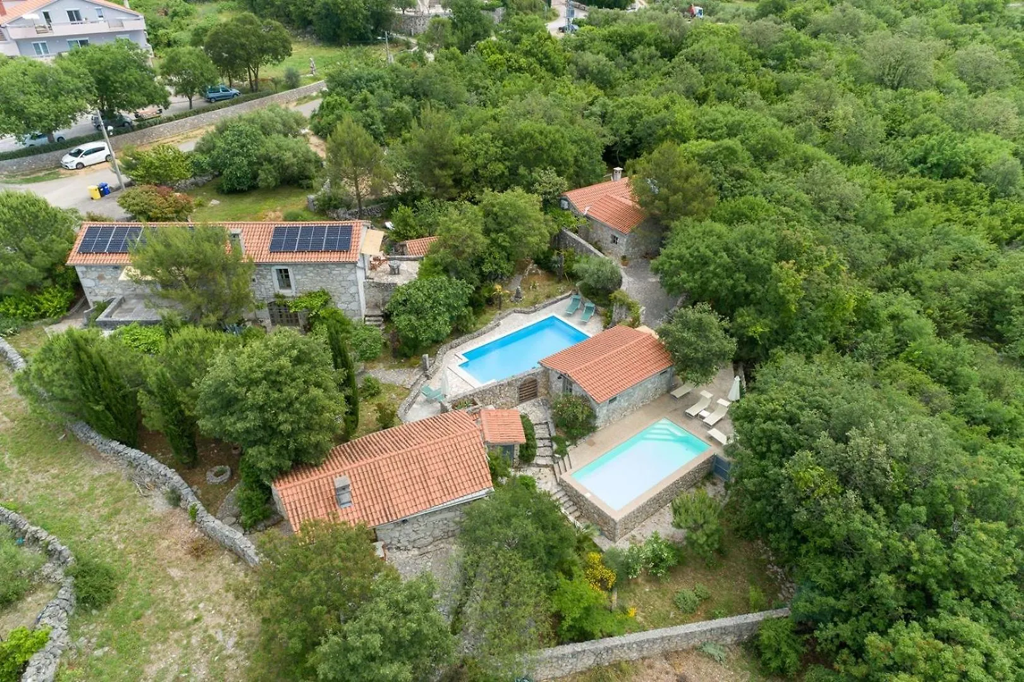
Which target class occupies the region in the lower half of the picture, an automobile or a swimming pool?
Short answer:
swimming pool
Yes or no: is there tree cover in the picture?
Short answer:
Yes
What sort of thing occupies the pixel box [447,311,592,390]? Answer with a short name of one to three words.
swimming pool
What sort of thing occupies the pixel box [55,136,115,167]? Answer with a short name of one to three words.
car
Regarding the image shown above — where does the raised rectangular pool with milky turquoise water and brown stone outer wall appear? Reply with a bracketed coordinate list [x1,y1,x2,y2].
[558,410,718,547]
